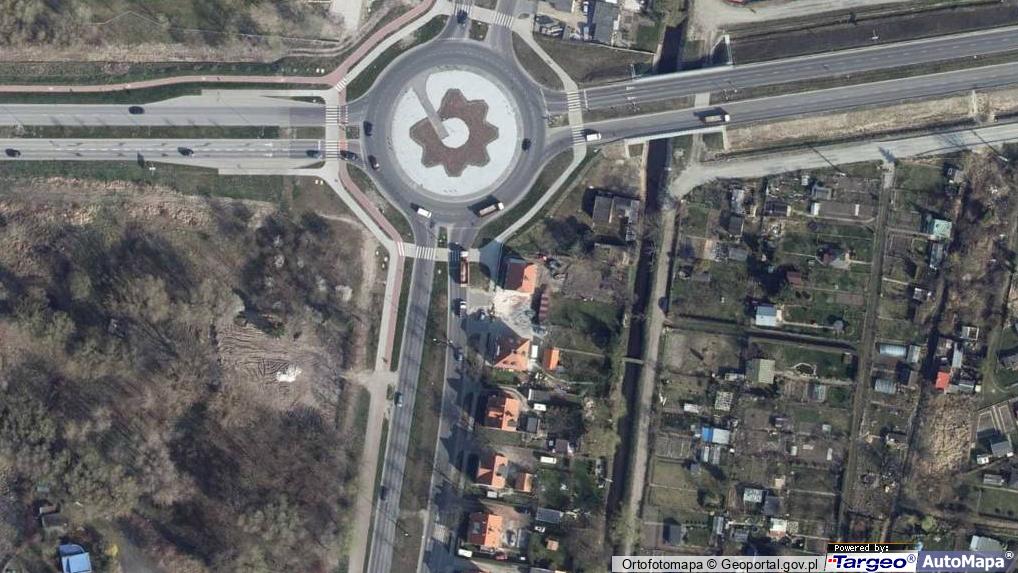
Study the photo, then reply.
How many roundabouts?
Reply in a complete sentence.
Only 1 roundabout is visible.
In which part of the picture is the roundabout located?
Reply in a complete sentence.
The roundabout appears toward the top of the photo.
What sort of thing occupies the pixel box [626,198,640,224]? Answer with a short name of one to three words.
building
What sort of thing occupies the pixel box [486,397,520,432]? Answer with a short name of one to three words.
house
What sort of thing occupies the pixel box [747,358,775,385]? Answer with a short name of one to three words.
shed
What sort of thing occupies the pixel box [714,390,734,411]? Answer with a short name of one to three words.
greenhouse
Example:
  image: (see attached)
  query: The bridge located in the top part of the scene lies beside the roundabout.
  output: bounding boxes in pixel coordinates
[625,31,736,155]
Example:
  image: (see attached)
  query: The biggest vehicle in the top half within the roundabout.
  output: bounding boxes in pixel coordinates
[475,201,505,217]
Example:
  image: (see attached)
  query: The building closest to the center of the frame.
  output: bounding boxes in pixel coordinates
[503,256,538,294]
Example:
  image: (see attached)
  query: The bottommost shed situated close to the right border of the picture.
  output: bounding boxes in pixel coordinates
[971,535,1010,563]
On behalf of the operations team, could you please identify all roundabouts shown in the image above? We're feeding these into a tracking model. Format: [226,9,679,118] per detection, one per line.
[359,38,550,228]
